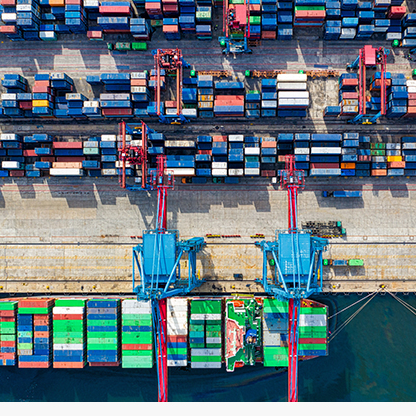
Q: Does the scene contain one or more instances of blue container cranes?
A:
Yes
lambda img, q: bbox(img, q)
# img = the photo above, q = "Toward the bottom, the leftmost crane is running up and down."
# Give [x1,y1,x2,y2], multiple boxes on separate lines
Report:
[131,154,209,416]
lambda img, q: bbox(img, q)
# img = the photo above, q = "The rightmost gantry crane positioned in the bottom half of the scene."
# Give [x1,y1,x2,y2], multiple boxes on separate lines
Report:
[256,154,331,416]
